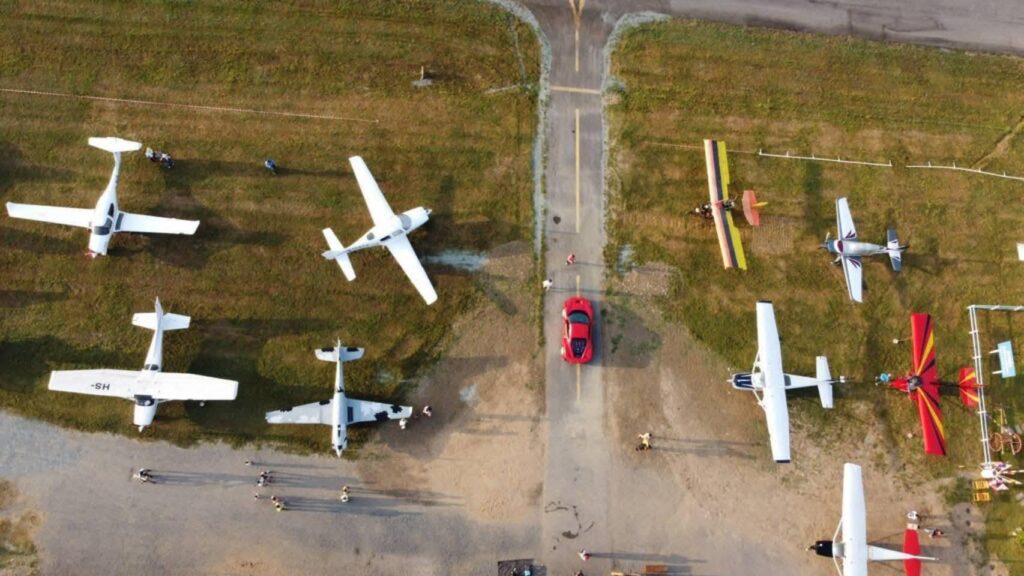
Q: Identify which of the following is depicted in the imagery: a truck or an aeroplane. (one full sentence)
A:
There is an aeroplane in the scene.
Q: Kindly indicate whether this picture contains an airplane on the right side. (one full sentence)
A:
Yes, an airplane can be seen on the right side.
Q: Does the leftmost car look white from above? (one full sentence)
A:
No, the leftmost car is actually red.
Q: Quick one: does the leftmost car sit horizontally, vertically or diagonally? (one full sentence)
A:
What the image shows is the leftmost car lying vertically.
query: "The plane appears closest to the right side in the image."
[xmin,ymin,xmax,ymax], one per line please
[883,313,993,454]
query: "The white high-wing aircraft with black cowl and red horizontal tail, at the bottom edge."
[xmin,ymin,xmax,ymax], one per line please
[803,464,936,576]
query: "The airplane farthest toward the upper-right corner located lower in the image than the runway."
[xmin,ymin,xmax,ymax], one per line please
[817,197,914,303]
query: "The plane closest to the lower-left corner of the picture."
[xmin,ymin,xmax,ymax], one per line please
[48,296,238,433]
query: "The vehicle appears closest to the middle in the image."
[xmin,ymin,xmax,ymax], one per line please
[562,297,596,367]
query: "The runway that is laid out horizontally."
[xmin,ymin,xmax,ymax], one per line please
[549,0,1024,50]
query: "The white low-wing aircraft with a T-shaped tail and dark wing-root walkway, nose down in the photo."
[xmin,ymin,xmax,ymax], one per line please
[7,133,196,260]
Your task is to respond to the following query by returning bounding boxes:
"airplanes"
[319,156,435,304]
[685,142,772,268]
[7,133,196,260]
[817,197,914,303]
[48,296,238,433]
[883,313,993,454]
[266,336,411,458]
[803,464,936,576]
[726,301,852,462]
